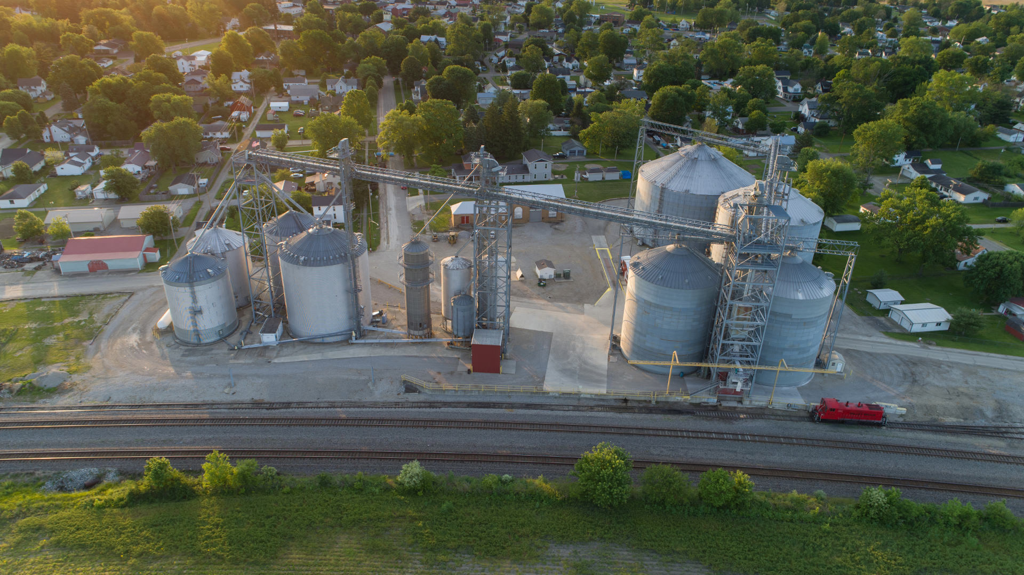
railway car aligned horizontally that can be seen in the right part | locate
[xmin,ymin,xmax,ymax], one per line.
[813,397,890,429]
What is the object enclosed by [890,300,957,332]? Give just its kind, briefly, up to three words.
building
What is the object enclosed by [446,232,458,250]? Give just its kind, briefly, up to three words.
vehicle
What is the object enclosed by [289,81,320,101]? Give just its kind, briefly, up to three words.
shed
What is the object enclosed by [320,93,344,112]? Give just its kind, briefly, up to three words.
house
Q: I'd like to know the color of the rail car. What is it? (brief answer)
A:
red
